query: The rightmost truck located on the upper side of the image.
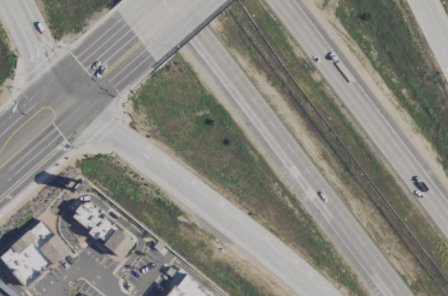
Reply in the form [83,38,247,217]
[331,56,359,91]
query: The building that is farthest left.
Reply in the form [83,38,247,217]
[0,220,70,287]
